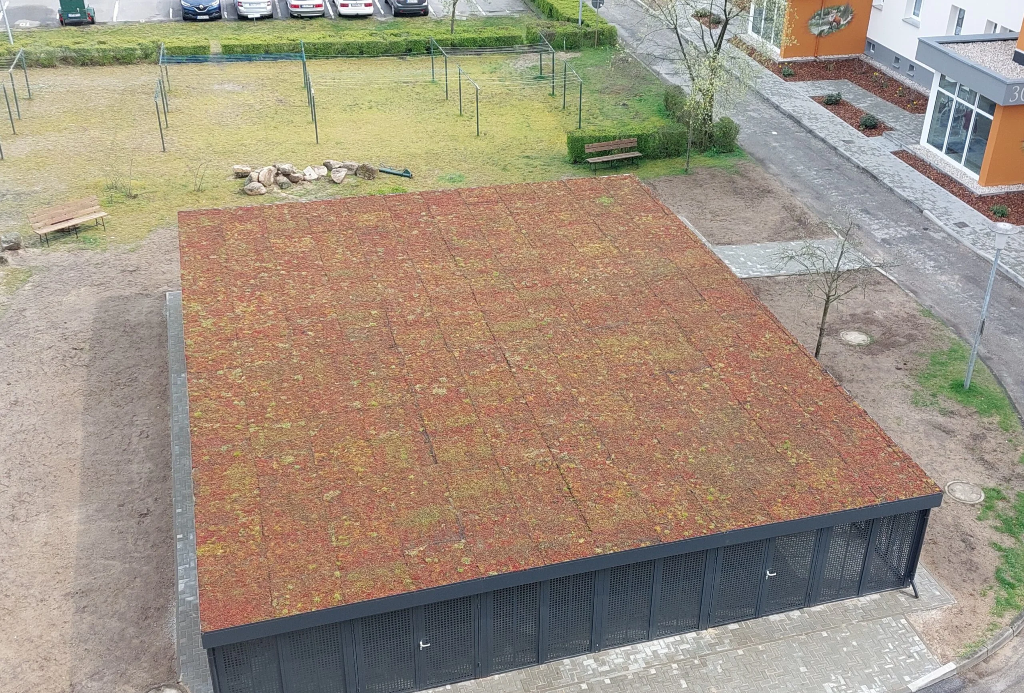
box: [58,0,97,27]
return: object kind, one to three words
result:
trailer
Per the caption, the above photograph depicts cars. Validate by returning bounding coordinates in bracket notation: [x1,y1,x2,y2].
[181,0,223,19]
[384,0,430,16]
[331,0,376,15]
[285,0,326,17]
[234,0,276,18]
